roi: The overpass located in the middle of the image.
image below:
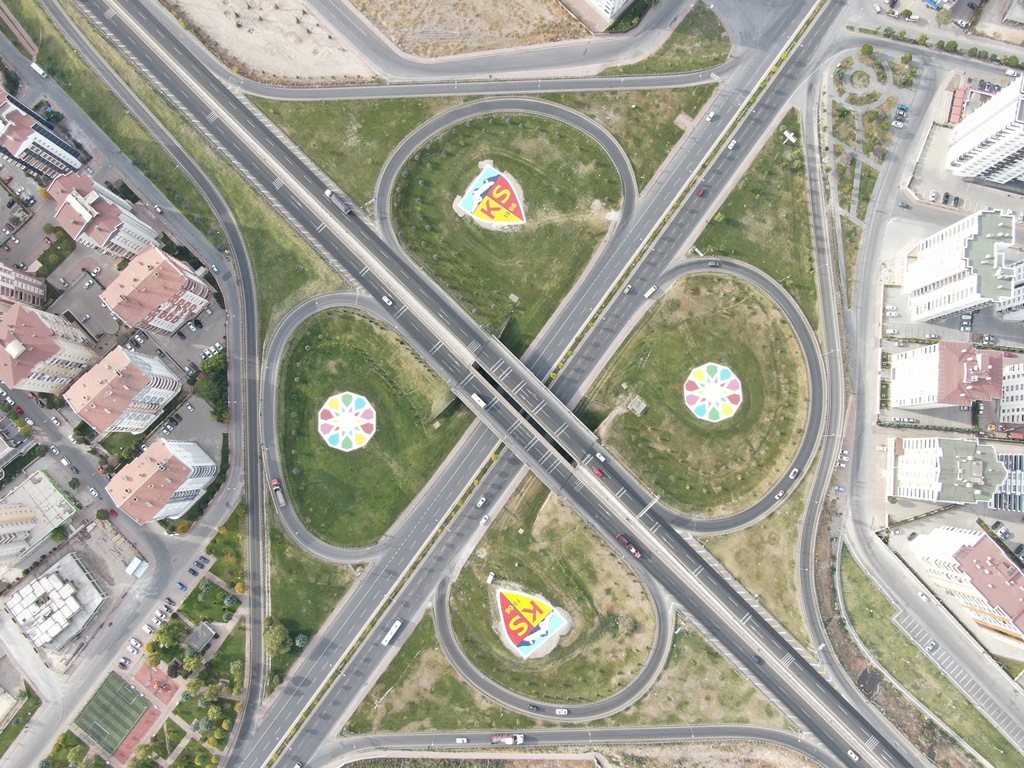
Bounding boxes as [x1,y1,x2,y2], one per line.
[428,319,621,511]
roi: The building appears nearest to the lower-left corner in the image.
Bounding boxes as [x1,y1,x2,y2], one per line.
[0,673,28,723]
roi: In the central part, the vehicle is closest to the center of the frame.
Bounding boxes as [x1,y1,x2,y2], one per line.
[469,391,488,410]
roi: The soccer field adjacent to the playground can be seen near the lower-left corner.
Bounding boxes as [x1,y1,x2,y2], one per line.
[68,671,150,761]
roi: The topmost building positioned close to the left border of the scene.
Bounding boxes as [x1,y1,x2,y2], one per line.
[0,85,79,179]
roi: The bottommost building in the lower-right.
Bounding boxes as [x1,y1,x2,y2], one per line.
[907,526,1024,645]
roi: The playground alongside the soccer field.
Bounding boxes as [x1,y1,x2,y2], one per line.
[135,665,181,706]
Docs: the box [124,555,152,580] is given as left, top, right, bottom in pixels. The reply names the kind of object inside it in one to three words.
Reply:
shed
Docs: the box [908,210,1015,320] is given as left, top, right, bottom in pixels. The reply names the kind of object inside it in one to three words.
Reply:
building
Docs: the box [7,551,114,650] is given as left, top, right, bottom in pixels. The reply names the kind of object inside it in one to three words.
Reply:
building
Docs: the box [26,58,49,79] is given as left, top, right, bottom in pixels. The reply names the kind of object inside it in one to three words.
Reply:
truck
